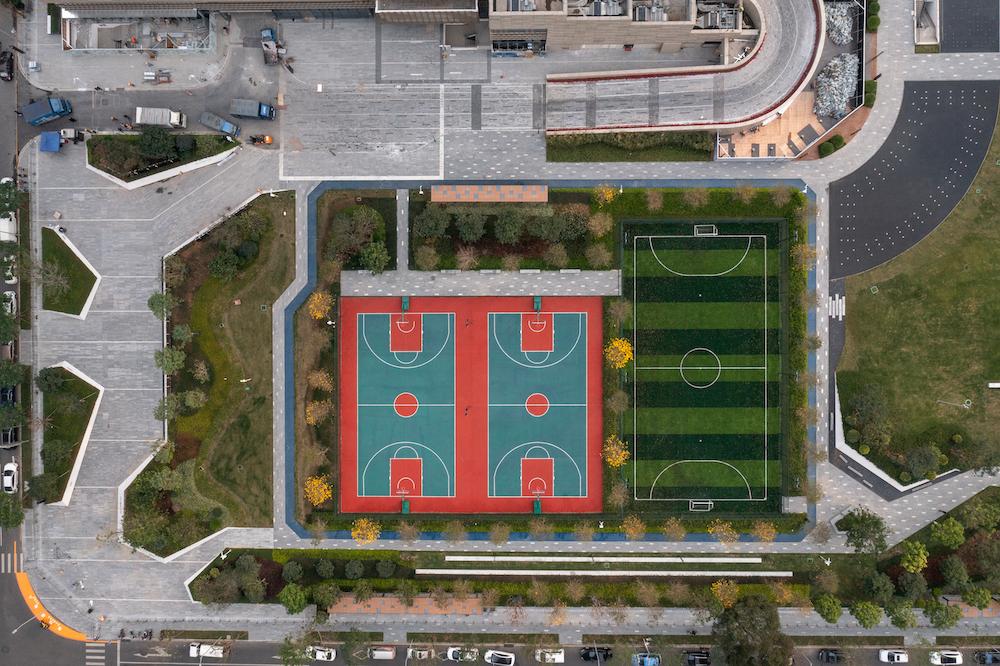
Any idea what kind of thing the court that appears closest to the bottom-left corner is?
basketball court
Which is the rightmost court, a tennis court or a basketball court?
basketball court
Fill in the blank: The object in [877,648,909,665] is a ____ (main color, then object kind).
white car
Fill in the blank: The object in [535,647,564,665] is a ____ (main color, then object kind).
white car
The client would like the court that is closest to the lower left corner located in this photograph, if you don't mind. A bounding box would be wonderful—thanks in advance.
[341,298,472,513]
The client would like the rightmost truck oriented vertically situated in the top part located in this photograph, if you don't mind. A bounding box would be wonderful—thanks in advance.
[258,26,281,66]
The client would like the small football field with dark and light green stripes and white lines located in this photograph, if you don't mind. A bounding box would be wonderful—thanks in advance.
[626,224,780,513]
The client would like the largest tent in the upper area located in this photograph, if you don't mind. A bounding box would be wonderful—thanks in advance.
[39,134,67,157]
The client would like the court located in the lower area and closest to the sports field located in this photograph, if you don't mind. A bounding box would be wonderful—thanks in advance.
[472,298,604,513]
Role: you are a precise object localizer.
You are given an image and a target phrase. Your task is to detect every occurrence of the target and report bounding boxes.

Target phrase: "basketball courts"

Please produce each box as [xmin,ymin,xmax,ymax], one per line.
[472,298,604,513]
[341,298,472,513]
